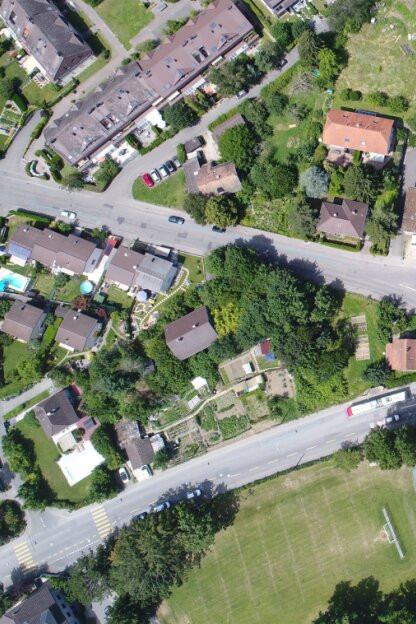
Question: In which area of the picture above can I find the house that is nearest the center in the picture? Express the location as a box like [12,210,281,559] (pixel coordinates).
[165,307,223,356]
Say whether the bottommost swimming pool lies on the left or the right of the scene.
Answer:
left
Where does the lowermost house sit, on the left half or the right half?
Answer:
left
